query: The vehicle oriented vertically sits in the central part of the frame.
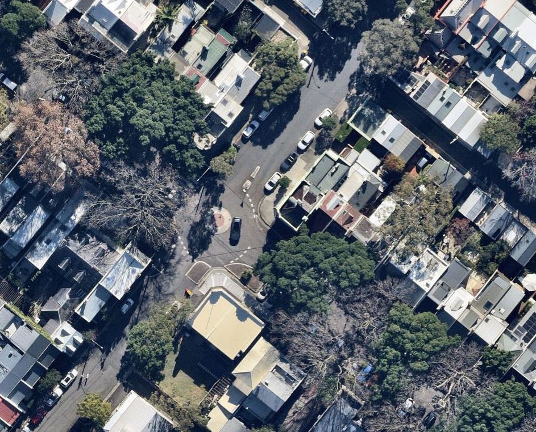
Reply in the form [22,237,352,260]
[229,217,242,243]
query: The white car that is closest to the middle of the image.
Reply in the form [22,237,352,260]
[261,169,285,194]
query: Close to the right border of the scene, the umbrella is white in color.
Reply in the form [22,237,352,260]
[523,273,536,292]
